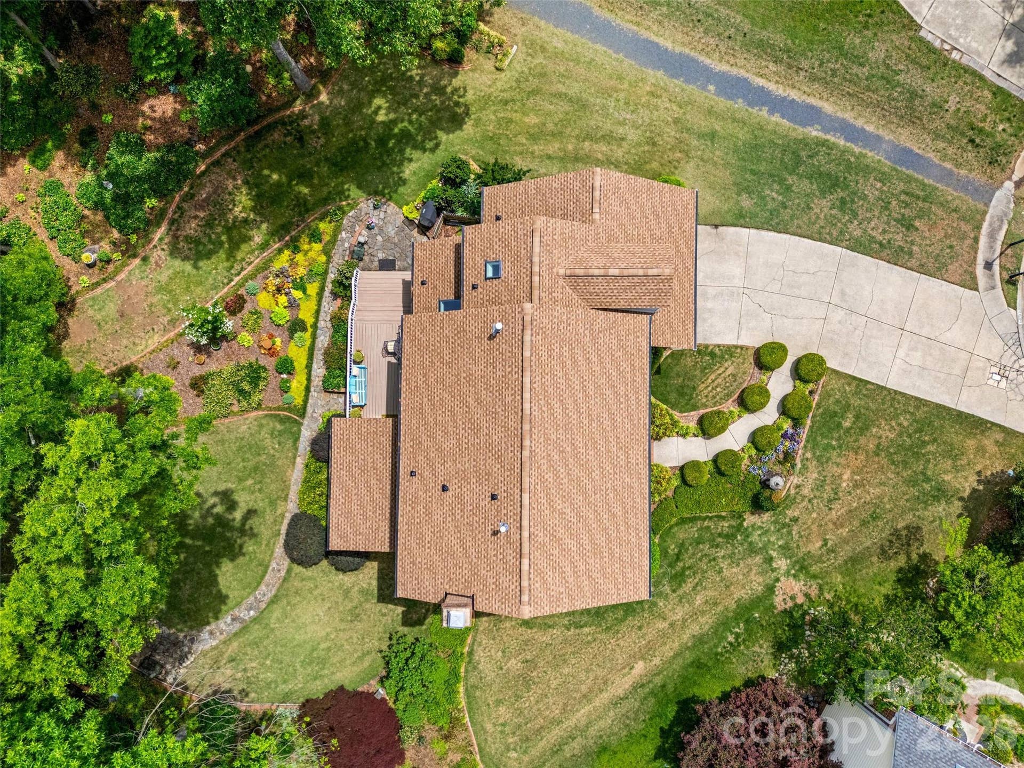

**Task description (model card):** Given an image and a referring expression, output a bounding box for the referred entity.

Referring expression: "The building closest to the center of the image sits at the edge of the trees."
[325,168,700,628]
